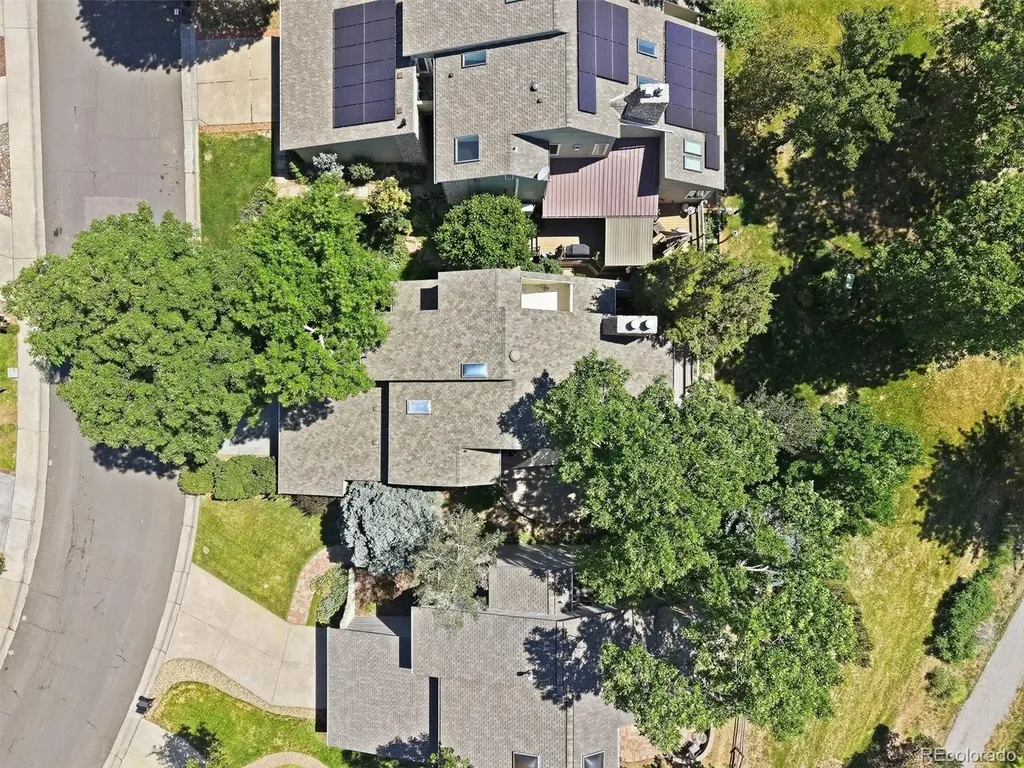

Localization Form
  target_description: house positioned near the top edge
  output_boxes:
[279,0,735,201]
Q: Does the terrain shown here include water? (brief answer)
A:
No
